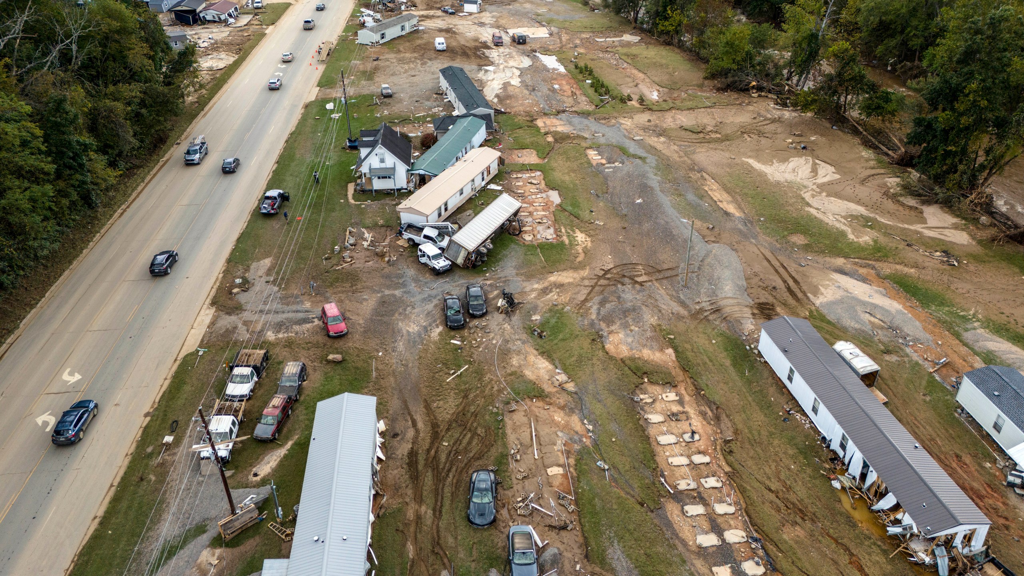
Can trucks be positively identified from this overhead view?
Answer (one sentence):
Yes, there's a truck down there.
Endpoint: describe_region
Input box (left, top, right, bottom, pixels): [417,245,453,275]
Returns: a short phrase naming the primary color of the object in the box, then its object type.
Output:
white car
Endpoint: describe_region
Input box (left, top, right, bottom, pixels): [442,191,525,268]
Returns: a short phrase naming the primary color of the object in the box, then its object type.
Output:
white trailer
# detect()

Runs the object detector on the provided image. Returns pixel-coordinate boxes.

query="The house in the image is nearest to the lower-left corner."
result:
[286,391,391,576]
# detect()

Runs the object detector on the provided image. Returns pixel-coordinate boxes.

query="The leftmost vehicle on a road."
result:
[49,399,98,446]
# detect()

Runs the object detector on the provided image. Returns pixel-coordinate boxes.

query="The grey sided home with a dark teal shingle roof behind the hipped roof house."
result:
[437,65,496,131]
